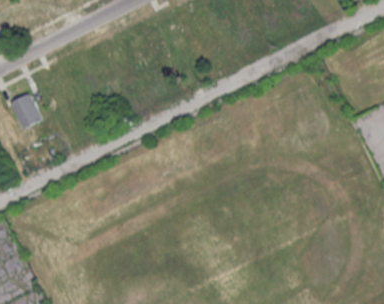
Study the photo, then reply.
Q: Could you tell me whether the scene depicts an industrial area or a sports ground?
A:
sports ground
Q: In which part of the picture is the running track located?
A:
bottom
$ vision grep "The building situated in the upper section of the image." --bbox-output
[12,94,44,129]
